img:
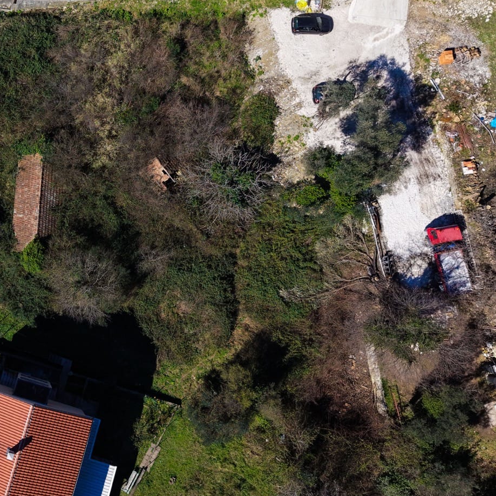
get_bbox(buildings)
[145,154,184,192]
[12,155,55,247]
[0,376,117,496]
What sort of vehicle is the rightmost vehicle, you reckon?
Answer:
truck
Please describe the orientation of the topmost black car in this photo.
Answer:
horizontally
